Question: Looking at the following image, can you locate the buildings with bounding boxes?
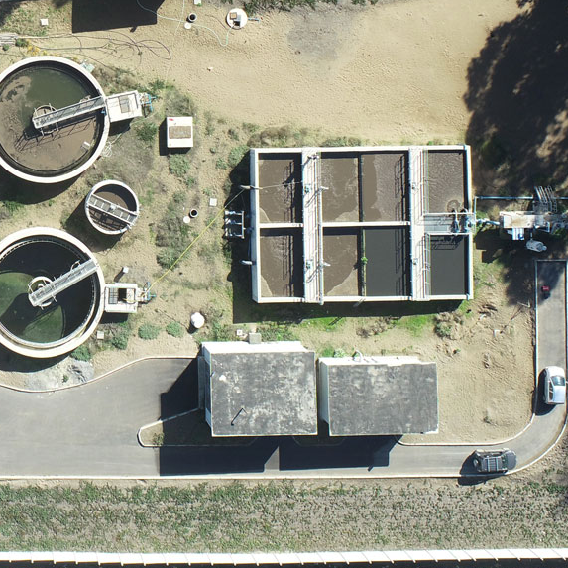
[203,343,317,439]
[319,353,438,439]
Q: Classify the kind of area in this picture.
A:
industrial area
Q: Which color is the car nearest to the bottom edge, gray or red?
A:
gray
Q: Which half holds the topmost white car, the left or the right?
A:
right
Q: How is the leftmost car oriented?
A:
horizontally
